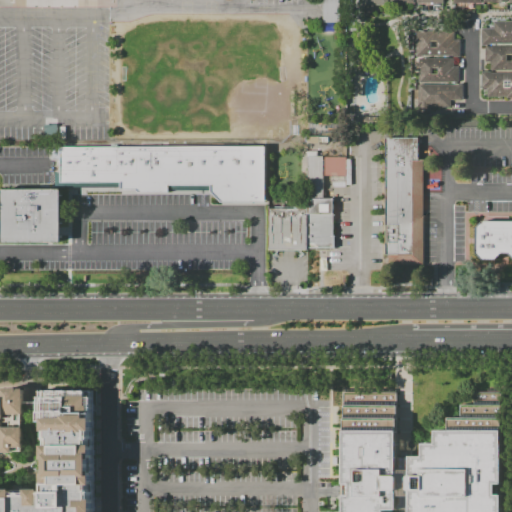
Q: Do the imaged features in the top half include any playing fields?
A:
Yes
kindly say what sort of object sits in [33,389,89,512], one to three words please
building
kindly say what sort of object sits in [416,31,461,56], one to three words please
house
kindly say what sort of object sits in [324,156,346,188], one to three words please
building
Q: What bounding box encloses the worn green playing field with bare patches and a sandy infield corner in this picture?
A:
[124,21,292,136]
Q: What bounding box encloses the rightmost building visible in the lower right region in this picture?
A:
[404,392,501,512]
